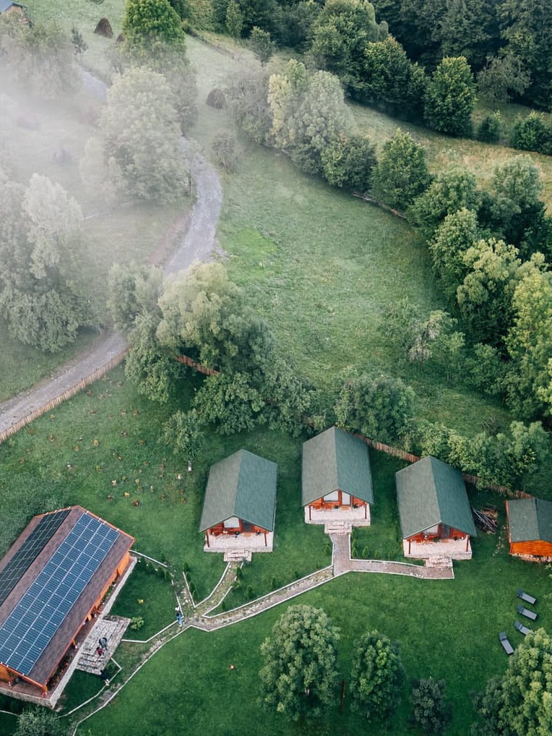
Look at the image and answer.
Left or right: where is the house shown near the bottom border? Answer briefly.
left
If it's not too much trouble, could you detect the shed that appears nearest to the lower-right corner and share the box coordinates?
[506,497,552,558]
